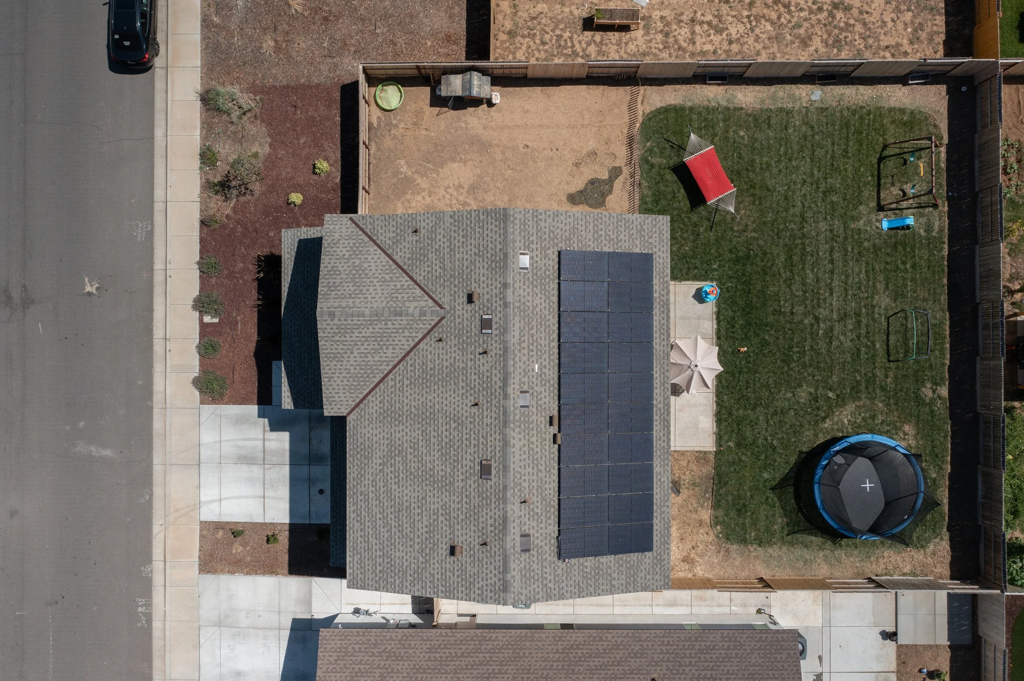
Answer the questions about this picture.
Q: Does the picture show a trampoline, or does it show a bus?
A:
trampoline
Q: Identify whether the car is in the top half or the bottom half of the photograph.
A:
top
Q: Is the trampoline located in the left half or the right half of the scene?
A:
right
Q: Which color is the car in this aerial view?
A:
black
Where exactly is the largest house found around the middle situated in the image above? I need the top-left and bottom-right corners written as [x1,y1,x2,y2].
[282,206,671,606]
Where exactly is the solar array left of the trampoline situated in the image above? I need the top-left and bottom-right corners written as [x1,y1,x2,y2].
[556,248,655,565]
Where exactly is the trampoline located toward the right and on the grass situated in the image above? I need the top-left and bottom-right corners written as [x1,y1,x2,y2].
[807,431,942,551]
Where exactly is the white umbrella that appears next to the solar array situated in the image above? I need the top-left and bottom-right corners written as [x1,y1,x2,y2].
[671,335,723,394]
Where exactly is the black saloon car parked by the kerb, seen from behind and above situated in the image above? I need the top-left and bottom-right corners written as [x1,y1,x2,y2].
[109,0,164,70]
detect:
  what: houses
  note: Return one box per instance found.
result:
[282,206,671,606]
[316,613,804,681]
